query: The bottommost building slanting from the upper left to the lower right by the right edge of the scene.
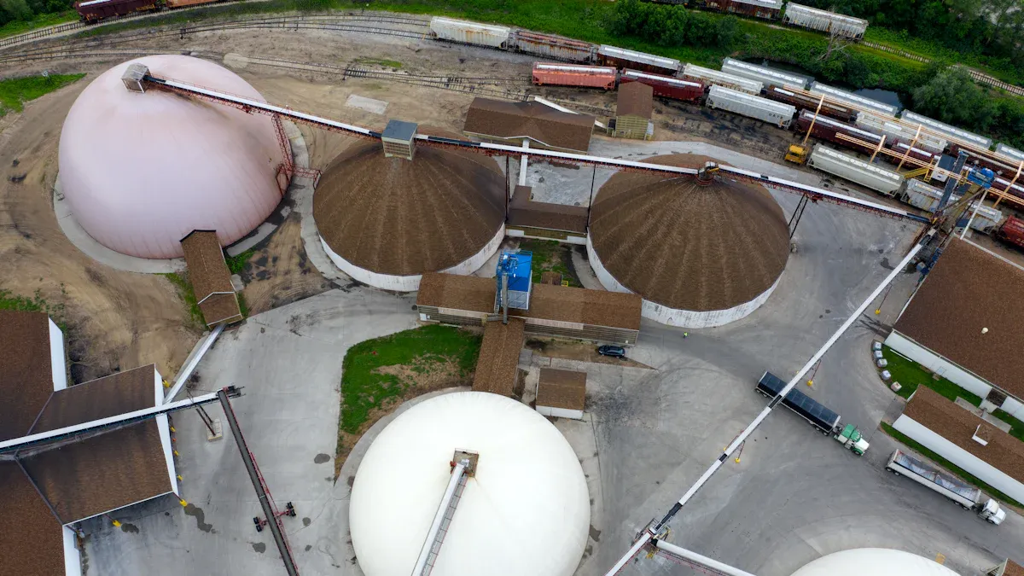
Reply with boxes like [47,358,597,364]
[894,383,1024,501]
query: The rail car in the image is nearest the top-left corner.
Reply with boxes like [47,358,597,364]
[76,0,167,23]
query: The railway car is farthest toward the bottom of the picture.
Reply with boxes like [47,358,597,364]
[992,216,1024,249]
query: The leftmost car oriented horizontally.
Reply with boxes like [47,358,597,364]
[597,344,625,359]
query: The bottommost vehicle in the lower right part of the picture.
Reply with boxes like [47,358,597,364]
[886,447,1004,526]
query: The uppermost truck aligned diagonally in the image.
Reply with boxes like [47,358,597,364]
[755,373,868,457]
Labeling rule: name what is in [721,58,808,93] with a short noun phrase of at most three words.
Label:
rail car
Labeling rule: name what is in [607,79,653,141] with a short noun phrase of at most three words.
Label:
shed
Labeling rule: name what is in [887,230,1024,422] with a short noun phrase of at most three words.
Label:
warehouse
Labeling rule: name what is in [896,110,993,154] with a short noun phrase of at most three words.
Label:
rail car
